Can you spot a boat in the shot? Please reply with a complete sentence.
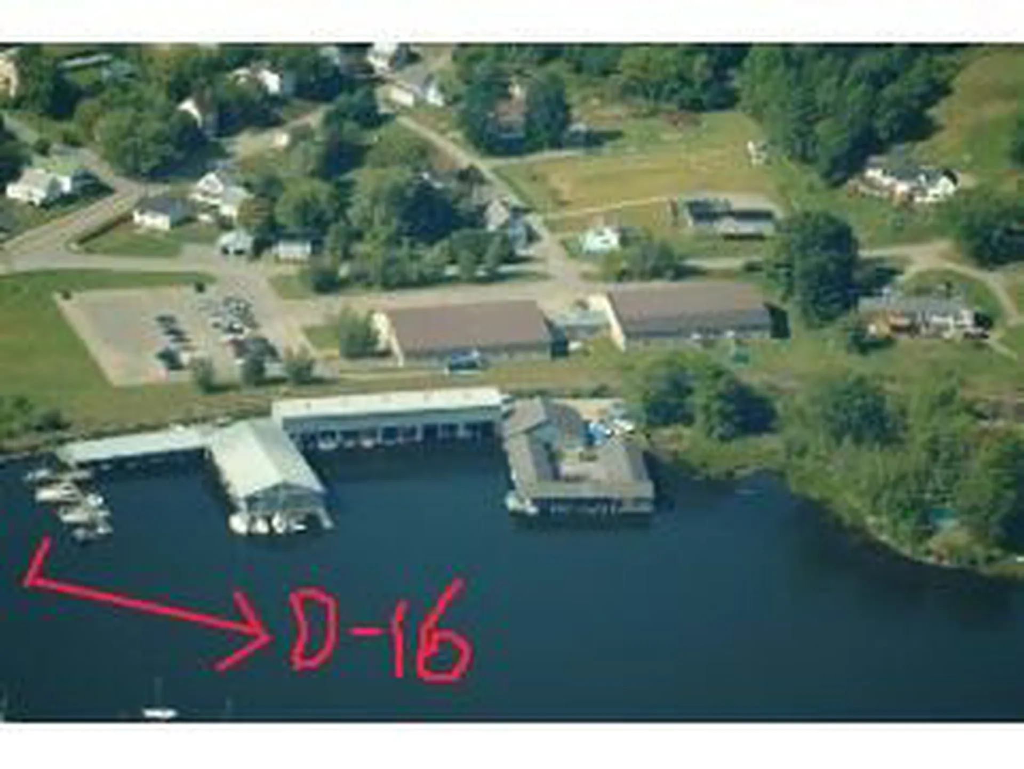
Yes, a boat is visible in the scene.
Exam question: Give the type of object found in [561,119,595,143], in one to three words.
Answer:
shed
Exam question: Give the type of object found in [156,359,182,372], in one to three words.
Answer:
vehicle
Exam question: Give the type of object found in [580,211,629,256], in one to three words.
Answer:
house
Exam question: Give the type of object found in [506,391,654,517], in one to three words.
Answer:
building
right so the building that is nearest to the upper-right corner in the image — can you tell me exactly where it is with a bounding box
[853,153,975,205]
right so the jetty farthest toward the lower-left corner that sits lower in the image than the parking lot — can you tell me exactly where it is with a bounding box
[52,459,113,539]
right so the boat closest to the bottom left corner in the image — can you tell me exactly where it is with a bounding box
[141,683,177,718]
